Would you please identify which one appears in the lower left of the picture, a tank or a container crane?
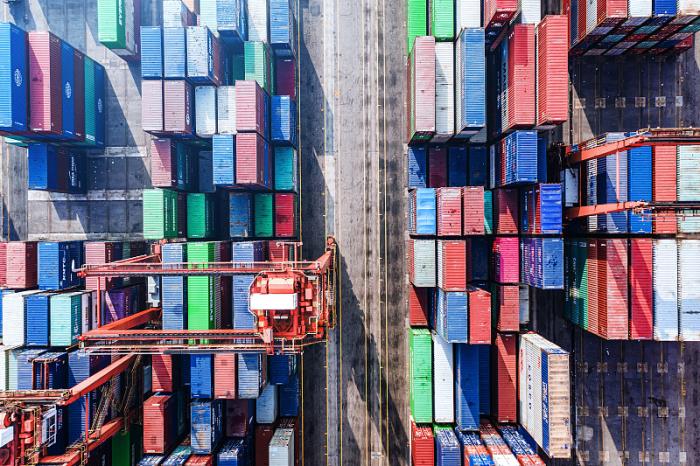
container crane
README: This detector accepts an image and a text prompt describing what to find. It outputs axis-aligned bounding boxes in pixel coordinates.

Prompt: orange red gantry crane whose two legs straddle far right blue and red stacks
[550,133,700,237]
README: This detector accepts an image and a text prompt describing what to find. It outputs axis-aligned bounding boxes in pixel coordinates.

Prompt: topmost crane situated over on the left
[75,230,342,364]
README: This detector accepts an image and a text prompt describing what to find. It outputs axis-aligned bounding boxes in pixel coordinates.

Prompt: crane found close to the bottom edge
[0,321,156,466]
